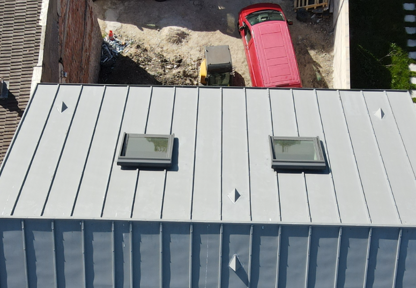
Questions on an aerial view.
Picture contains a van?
Yes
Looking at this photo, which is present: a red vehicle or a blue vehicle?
red vehicle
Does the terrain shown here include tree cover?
No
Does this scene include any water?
No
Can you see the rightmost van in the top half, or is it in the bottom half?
top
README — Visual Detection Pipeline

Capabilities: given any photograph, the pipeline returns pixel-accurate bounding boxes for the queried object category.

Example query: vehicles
[235,4,300,86]
[200,45,235,84]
